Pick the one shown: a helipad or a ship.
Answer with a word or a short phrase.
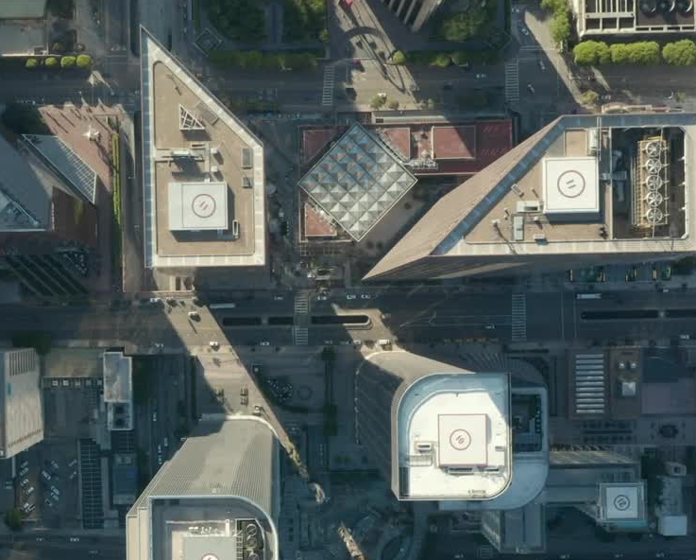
helipad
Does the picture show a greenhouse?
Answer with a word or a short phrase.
Yes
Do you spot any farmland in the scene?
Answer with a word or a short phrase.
No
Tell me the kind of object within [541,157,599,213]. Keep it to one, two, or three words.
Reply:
helipad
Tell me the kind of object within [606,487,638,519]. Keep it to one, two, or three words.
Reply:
helipad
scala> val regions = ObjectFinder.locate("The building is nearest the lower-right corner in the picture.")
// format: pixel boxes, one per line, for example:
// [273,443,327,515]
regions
[649,510,687,535]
